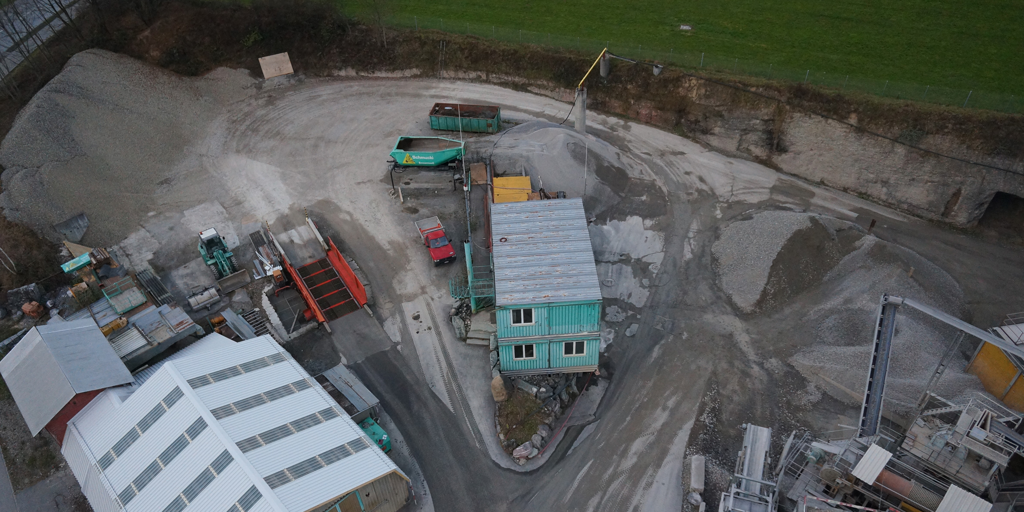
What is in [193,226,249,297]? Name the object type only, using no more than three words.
work vehicle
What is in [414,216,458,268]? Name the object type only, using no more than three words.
truck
